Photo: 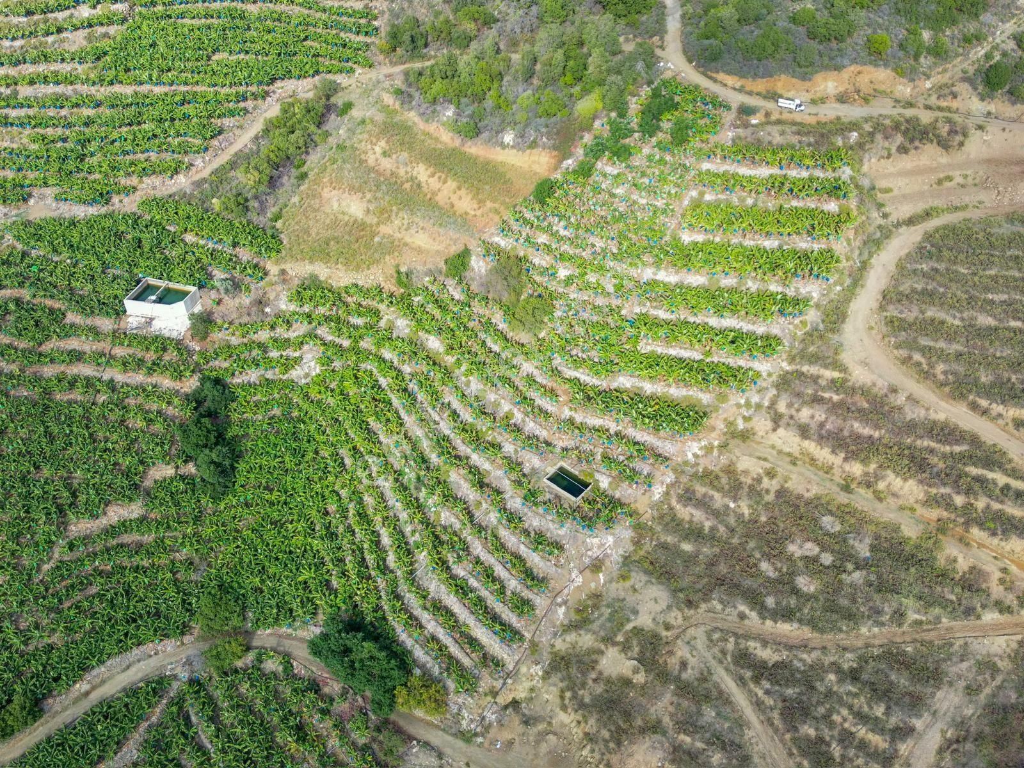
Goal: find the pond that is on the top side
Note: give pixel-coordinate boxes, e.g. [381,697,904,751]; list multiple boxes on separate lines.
[124,278,202,323]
